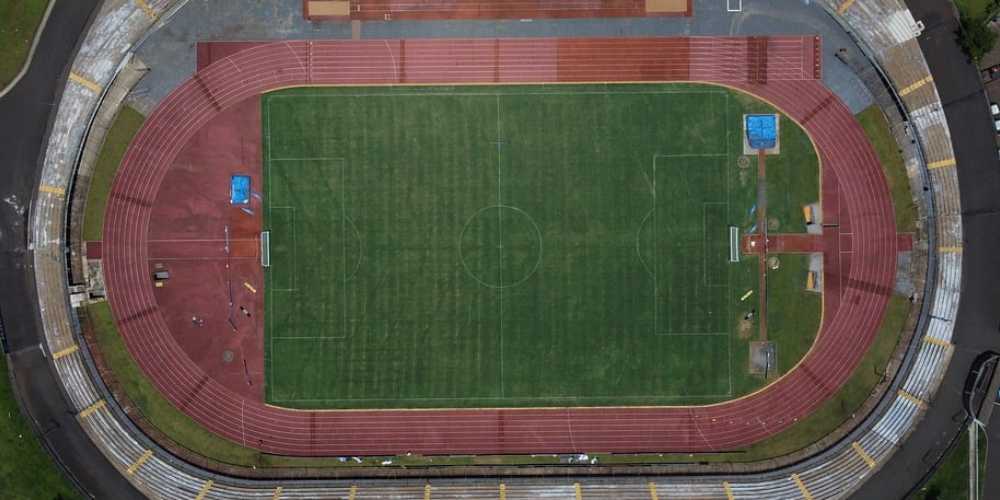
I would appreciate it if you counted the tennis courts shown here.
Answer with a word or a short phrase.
none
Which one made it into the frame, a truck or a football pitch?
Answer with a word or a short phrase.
football pitch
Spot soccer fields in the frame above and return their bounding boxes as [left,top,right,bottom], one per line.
[262,82,823,409]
